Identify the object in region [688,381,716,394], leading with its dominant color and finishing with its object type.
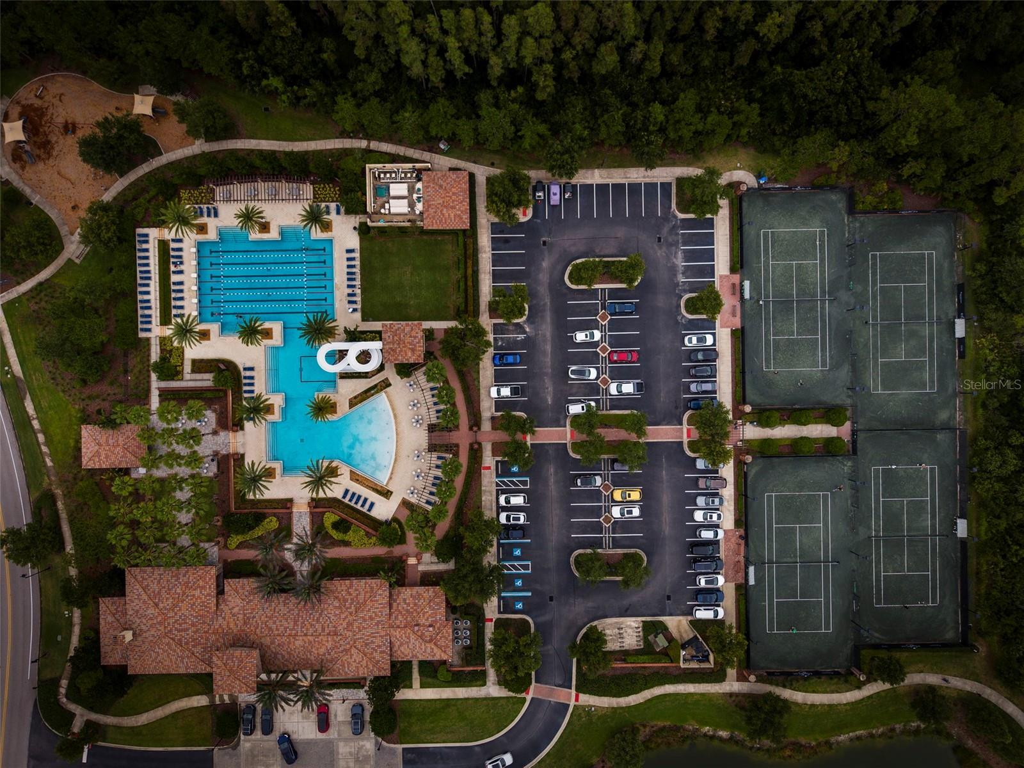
gray vehicle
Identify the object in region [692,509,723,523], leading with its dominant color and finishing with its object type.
white car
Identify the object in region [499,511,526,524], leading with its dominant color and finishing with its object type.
white vehicle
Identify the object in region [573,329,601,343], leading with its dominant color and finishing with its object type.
white car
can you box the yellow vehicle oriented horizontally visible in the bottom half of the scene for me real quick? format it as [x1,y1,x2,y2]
[612,488,642,502]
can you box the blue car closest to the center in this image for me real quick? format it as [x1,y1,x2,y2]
[493,352,520,366]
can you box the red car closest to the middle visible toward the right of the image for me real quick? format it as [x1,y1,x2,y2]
[609,349,639,364]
